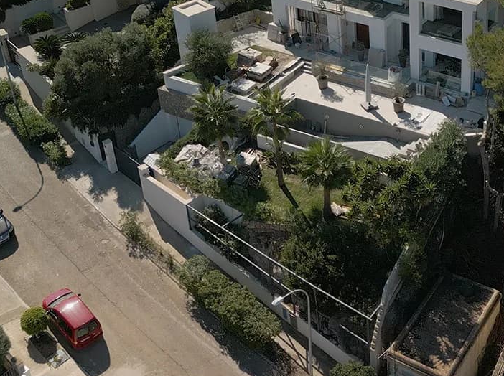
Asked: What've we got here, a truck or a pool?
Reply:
pool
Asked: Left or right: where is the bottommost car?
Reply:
left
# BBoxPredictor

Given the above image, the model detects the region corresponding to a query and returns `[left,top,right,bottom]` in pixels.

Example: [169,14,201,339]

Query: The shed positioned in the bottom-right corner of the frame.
[385,272,503,376]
